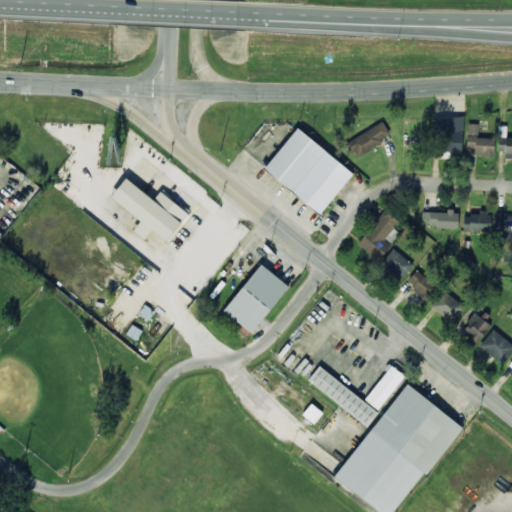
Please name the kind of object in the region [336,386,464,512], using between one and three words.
warehouse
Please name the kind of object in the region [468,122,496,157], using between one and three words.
house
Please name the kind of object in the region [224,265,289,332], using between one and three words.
building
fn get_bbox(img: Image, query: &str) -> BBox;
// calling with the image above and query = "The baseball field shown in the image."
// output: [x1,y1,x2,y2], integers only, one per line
[0,292,102,476]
